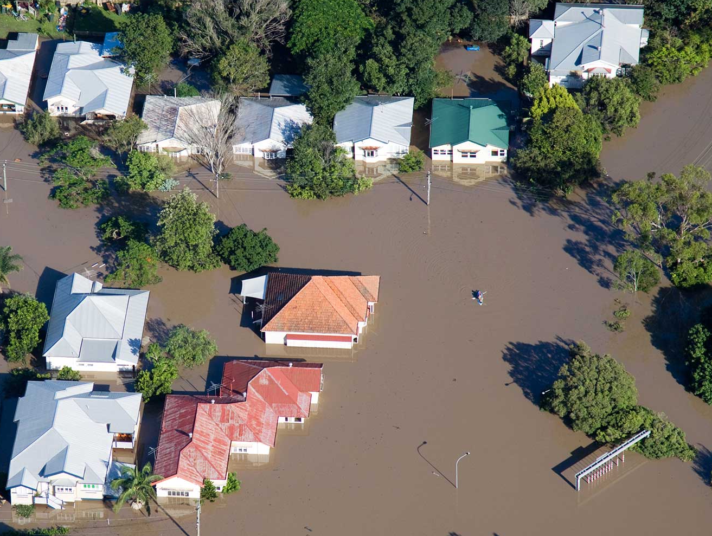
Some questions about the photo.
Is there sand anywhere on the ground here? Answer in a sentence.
No, the scene doesn't show any sand.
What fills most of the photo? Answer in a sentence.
Most of the picture is covered by water.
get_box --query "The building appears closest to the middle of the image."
[241,272,380,350]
